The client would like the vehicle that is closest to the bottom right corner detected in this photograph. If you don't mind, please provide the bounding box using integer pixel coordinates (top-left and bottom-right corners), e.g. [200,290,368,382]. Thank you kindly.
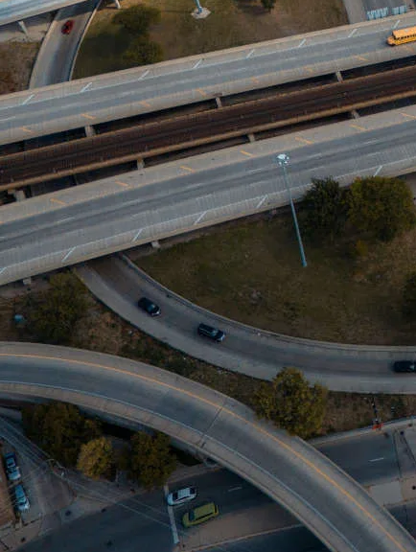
[394,360,416,373]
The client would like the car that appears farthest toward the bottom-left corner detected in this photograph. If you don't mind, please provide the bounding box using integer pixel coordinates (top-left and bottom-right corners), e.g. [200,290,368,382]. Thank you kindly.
[12,480,30,516]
